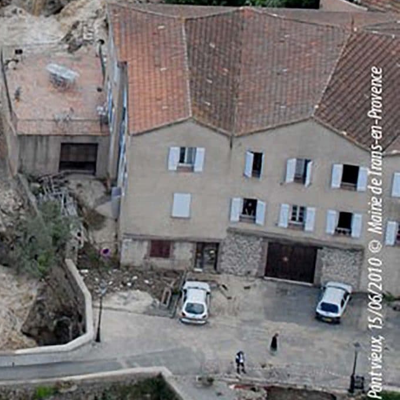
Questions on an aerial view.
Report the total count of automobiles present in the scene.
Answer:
2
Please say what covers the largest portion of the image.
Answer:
buildings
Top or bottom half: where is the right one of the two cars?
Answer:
bottom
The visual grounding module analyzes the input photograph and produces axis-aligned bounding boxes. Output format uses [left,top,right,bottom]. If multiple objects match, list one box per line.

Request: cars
[312,282,356,335]
[180,285,214,331]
